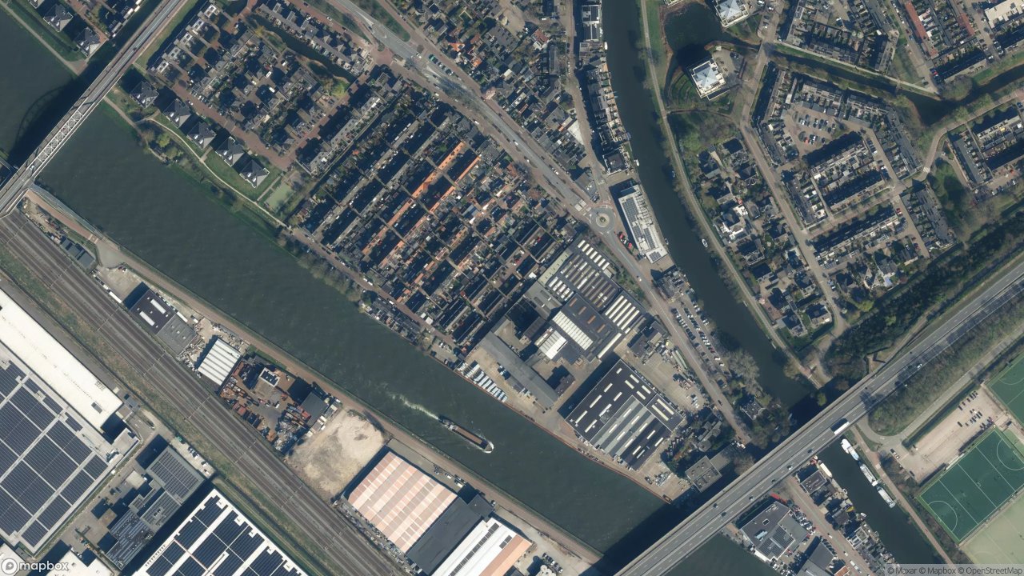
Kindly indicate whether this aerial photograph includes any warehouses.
Yes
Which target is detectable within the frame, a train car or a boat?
boat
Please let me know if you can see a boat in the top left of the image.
No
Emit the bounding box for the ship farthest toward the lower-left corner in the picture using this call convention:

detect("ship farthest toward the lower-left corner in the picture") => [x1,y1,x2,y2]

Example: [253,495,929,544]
[437,415,492,452]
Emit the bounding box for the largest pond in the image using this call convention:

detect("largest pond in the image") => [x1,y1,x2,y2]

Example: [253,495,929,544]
[664,4,758,100]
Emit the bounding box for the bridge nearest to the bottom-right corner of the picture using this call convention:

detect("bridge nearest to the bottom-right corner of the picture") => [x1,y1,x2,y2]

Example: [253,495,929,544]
[612,250,1024,576]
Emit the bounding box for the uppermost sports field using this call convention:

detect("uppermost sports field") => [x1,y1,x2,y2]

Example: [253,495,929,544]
[984,352,1024,423]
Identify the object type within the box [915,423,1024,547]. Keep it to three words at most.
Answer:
sports field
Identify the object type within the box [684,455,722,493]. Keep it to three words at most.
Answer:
building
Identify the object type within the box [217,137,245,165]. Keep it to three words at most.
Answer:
house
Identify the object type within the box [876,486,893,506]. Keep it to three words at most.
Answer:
boat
